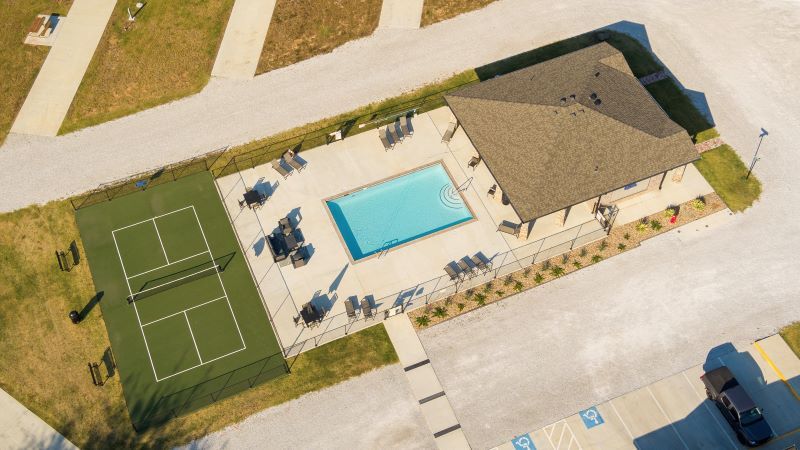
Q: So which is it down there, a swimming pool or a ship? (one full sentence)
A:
The image shows a swimming pool.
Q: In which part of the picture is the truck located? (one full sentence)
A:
The truck appears toward the bottom right of the photo.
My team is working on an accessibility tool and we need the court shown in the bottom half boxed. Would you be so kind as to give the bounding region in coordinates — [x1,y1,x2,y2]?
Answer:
[76,168,291,430]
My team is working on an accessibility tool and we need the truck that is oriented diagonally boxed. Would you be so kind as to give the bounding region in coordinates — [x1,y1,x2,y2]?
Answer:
[698,365,773,450]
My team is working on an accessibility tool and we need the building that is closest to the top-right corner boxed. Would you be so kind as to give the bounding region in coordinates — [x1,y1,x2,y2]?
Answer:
[441,44,704,241]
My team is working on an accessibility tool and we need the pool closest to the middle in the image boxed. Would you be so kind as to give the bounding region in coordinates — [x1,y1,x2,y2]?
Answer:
[323,159,478,264]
